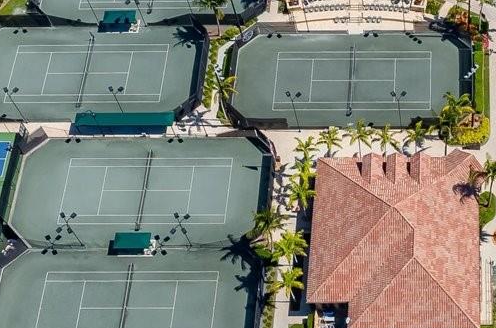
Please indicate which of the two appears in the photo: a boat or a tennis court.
tennis court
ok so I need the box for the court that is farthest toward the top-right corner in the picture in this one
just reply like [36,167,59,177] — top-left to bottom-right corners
[230,33,473,131]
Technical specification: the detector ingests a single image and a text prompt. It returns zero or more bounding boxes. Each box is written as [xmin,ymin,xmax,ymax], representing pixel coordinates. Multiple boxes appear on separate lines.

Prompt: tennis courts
[0,248,266,328]
[230,33,473,131]
[38,0,268,27]
[11,138,277,248]
[0,26,211,123]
